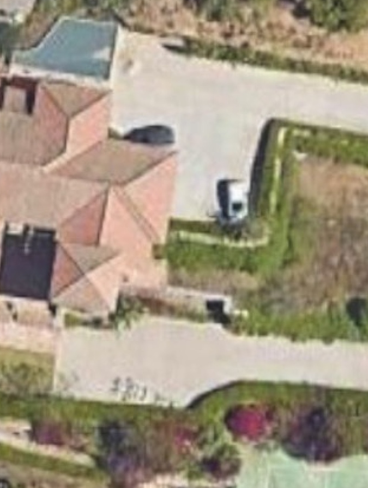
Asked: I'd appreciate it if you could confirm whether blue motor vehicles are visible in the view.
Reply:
No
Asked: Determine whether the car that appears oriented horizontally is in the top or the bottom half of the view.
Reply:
top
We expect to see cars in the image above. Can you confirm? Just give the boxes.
[129,125,177,146]
[229,179,248,224]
